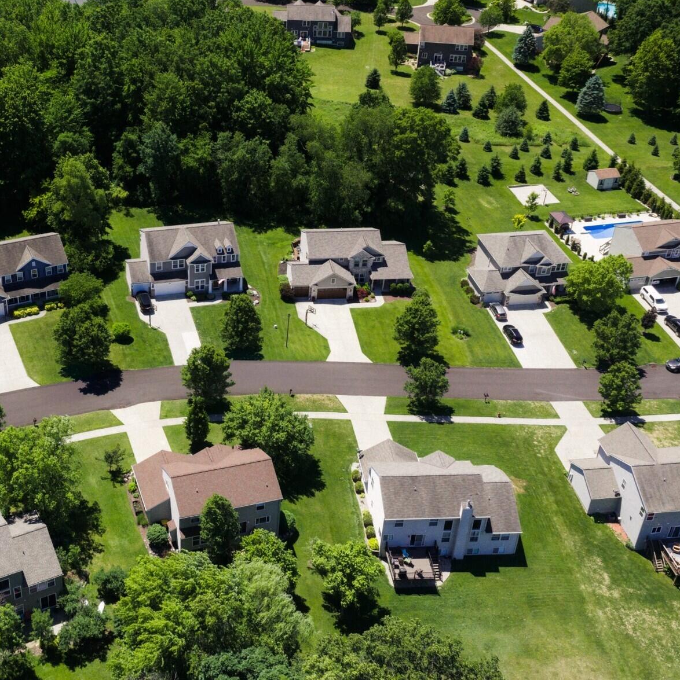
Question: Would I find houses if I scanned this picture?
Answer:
Yes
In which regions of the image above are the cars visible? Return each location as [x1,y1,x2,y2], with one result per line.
[487,301,508,319]
[136,291,152,310]
[667,357,680,374]
[502,324,527,343]
[643,282,667,306]
[666,315,680,335]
